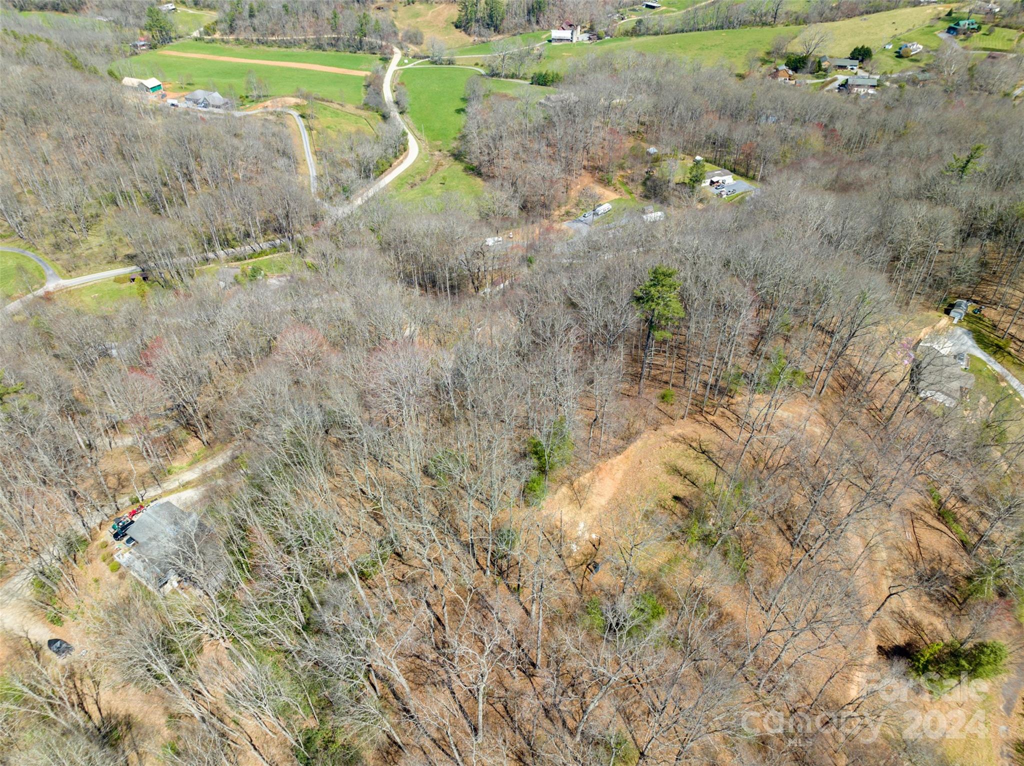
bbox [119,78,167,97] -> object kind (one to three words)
barn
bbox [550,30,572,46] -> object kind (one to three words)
barn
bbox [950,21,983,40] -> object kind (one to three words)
house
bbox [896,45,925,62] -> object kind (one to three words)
house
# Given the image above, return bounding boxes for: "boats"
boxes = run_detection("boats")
[46,637,74,656]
